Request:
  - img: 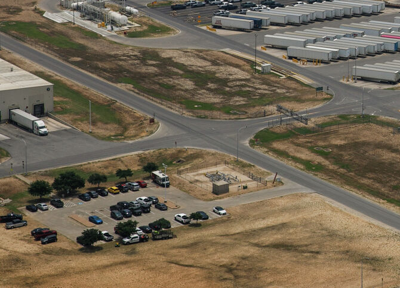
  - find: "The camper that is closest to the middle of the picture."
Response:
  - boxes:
[149,166,170,184]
